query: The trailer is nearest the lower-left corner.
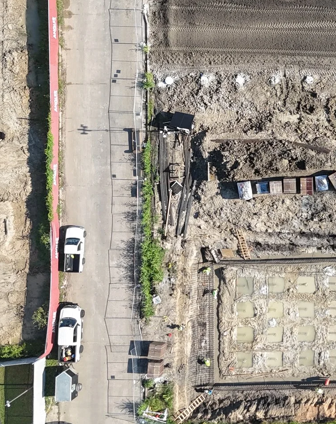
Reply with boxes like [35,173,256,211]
[53,362,83,409]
